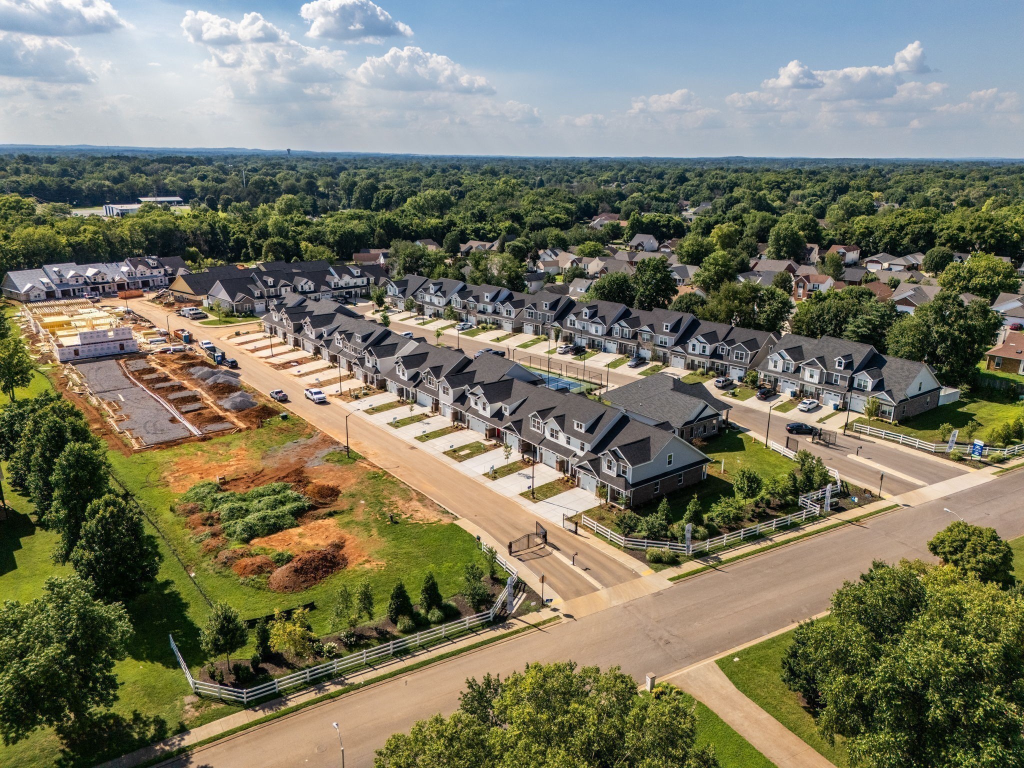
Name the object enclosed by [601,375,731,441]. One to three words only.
building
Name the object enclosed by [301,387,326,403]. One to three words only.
vehicle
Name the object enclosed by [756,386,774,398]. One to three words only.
vehicle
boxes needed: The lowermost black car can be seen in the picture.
[782,422,817,436]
